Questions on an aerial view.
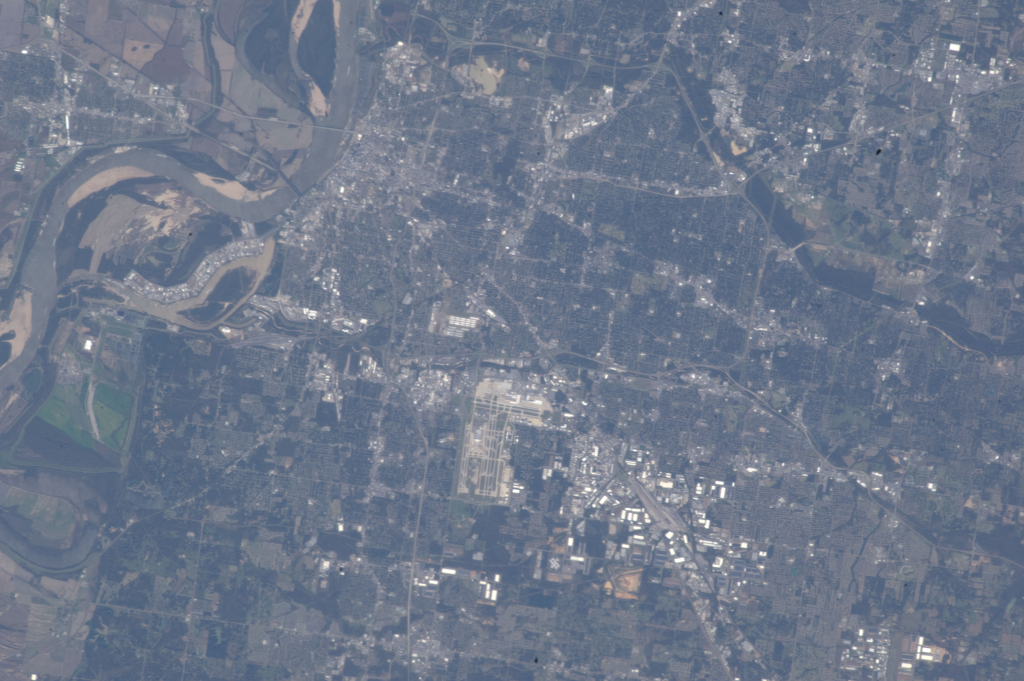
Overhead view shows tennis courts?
No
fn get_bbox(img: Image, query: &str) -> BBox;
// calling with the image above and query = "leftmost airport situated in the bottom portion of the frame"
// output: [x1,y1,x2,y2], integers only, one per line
[451,378,553,500]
